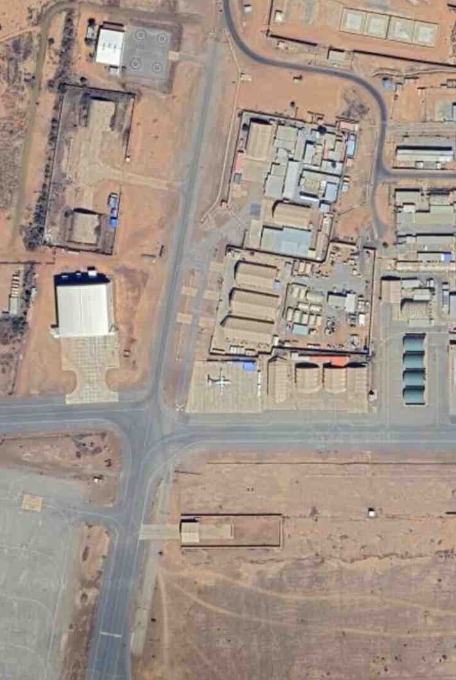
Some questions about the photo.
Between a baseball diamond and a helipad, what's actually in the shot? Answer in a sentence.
Looking from above, you can make out a helipad.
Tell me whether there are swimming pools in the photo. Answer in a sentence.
No, the frame has no swimming pool in it.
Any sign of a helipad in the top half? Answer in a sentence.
Yes, in the top half there is a helipad.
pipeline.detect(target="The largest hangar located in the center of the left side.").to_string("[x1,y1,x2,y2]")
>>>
[56,284,111,335]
